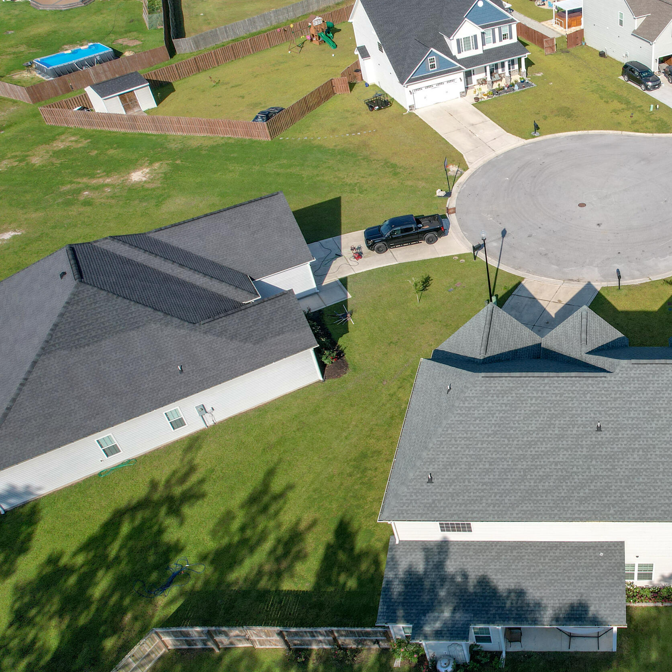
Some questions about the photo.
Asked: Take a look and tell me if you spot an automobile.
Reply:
Yes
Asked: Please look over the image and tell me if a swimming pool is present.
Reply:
Yes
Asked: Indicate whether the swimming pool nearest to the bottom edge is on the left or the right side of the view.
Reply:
left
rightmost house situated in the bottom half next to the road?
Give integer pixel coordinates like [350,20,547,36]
[373,301,672,666]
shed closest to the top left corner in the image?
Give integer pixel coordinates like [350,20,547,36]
[85,65,157,112]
